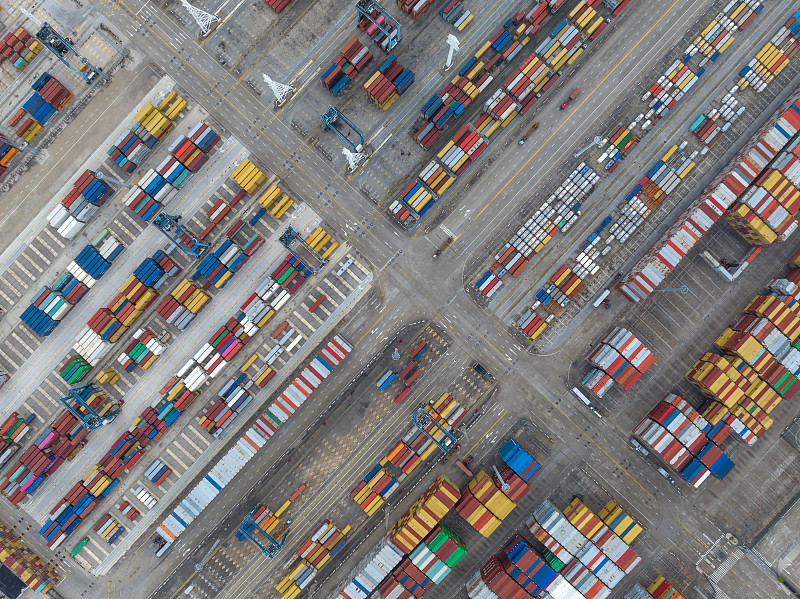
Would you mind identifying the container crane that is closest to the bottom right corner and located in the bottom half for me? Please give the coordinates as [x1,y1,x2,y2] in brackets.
[412,404,457,452]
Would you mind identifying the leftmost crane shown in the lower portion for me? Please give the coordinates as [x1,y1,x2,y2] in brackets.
[59,384,119,430]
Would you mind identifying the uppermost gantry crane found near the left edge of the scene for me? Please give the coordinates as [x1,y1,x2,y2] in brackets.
[36,21,123,99]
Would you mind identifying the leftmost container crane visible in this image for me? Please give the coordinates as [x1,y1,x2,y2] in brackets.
[0,119,45,166]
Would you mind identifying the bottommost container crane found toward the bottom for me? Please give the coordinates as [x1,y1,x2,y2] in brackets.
[238,505,288,560]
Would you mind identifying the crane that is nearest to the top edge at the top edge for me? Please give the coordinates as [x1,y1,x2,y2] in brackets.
[355,0,401,52]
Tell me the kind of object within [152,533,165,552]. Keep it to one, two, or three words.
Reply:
vehicle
